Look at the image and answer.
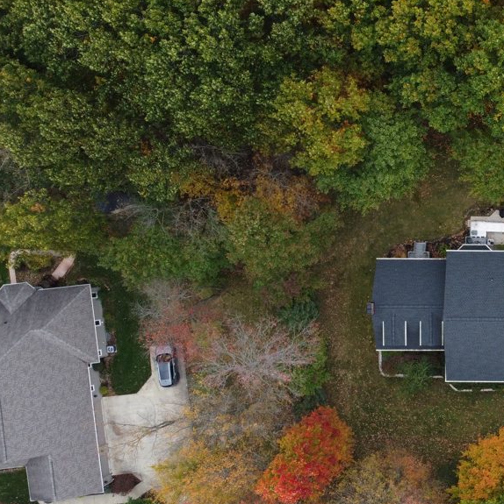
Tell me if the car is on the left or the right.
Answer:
left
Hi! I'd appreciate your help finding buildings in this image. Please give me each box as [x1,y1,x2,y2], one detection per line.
[366,244,504,384]
[0,281,113,502]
